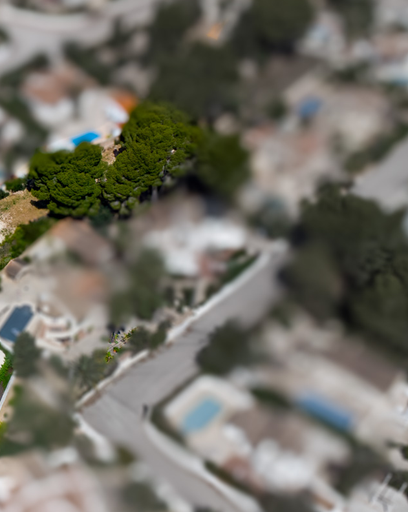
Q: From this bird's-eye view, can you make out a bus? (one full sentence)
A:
No, the frame has no bus in it.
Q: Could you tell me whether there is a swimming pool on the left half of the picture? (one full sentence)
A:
Yes, looking on the left half of the picture, one can make out a swimming pool.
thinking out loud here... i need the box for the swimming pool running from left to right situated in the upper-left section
[66,129,105,146]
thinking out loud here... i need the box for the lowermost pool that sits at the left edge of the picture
[0,300,40,345]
